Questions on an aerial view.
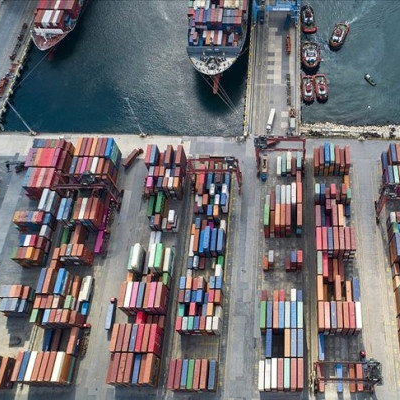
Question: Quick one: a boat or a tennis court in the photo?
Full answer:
Visible in the photo is a boat.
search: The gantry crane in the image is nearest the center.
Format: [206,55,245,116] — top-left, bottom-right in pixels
[185,155,242,193]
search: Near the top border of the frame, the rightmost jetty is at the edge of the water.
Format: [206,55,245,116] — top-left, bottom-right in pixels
[242,0,304,136]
